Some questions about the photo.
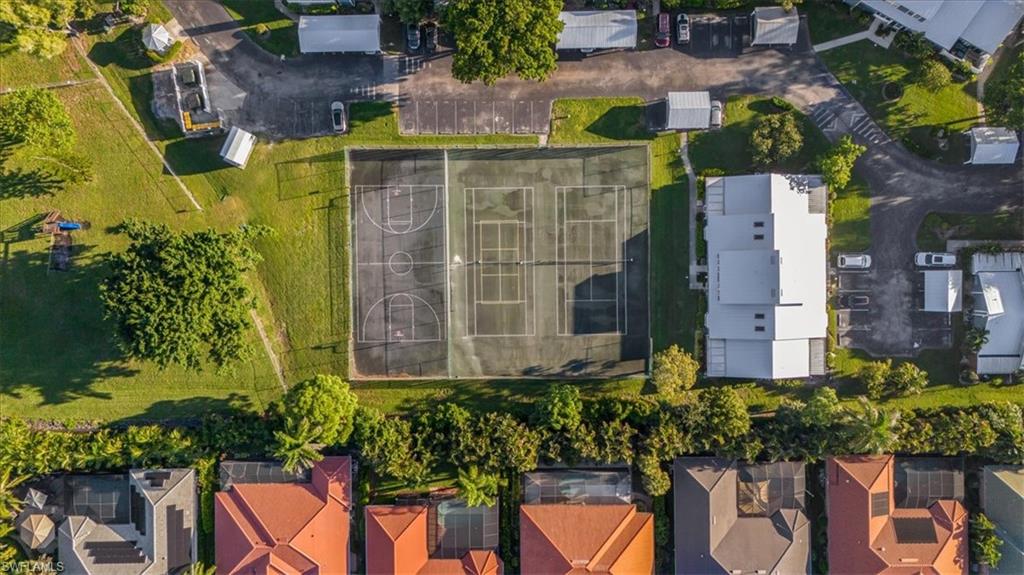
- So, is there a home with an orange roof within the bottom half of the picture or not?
Yes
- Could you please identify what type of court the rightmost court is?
tennis court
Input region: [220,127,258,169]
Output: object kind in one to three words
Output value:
shed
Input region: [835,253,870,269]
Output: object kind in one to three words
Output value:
car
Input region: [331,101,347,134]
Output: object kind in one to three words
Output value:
car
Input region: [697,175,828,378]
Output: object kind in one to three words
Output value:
building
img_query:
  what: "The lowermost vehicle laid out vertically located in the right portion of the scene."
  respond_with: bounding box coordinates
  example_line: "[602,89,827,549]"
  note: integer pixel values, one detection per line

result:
[710,98,724,130]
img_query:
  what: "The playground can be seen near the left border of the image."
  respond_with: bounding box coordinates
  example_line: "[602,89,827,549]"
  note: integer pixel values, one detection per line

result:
[35,210,82,273]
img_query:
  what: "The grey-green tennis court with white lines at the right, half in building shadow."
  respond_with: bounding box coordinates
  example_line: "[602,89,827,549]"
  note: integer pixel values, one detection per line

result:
[545,148,650,377]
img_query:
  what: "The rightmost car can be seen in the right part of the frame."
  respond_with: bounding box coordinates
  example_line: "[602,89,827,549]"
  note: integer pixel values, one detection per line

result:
[915,252,956,268]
